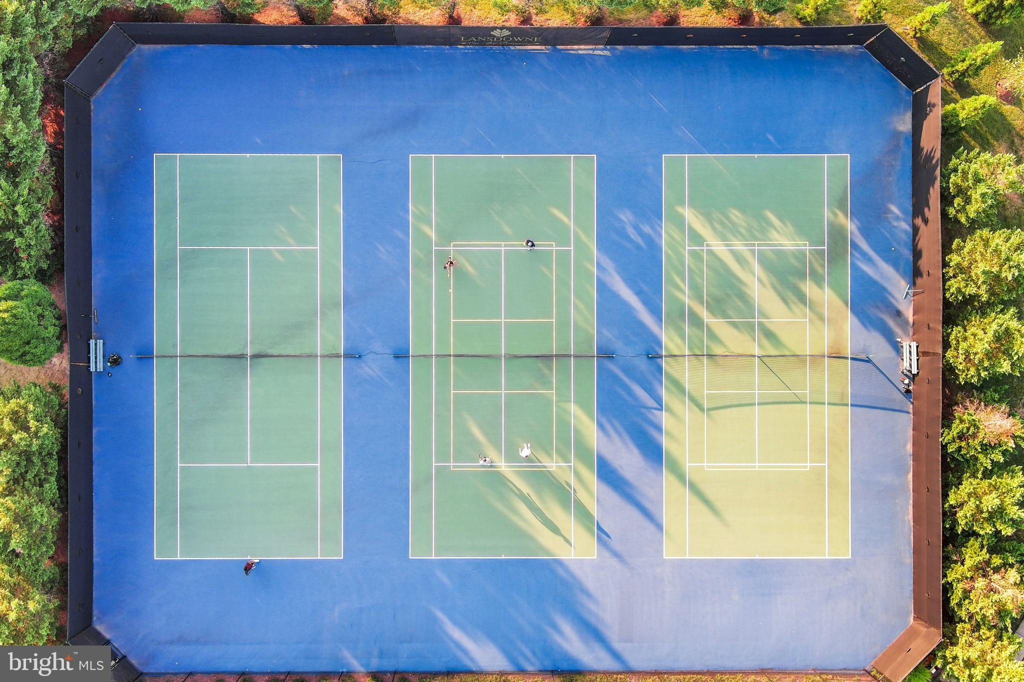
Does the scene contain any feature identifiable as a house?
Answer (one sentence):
No, there isn't any house down there.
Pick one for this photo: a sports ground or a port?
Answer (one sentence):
What you see here is a sports ground.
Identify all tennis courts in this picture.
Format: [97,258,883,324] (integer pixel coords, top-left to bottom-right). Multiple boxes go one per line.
[663,154,851,559]
[154,154,342,560]
[409,154,597,559]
